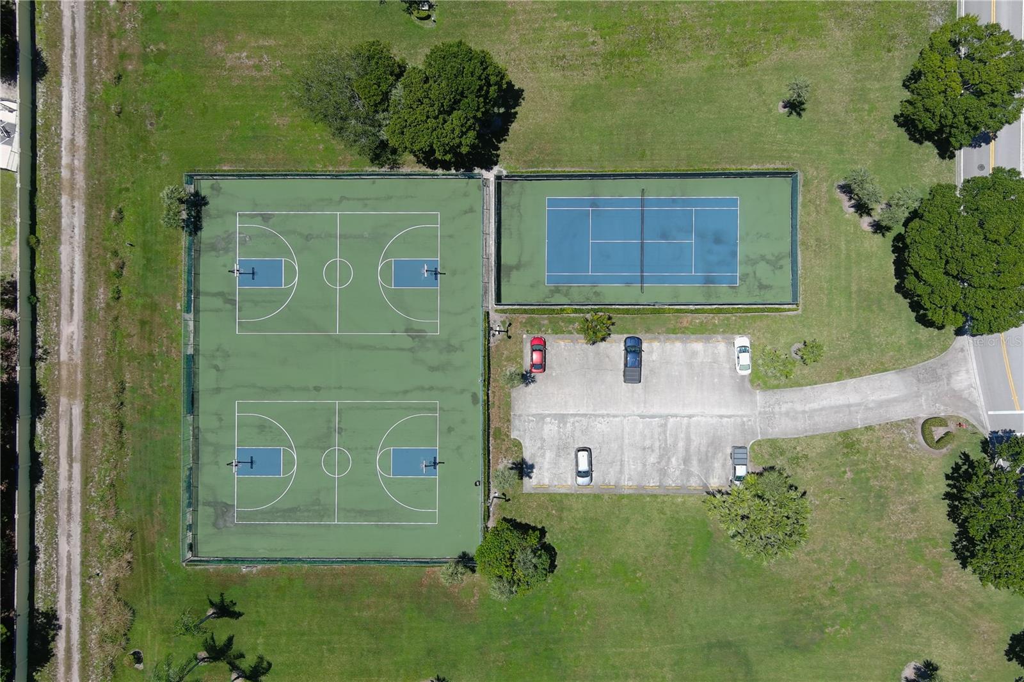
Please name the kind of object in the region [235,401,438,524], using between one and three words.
basketball court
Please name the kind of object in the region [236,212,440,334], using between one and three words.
basketball court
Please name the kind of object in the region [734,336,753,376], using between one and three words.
car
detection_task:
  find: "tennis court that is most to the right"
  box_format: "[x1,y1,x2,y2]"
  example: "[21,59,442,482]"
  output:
[496,179,792,302]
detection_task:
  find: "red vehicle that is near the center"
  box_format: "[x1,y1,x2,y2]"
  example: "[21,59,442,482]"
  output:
[529,336,547,374]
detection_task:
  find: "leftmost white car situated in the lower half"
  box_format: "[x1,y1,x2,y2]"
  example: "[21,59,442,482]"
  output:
[575,448,593,486]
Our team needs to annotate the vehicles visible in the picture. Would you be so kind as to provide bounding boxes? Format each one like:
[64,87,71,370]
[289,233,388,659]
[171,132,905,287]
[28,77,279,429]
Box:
[624,337,644,384]
[734,336,753,376]
[731,447,749,490]
[529,336,547,374]
[575,448,593,486]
